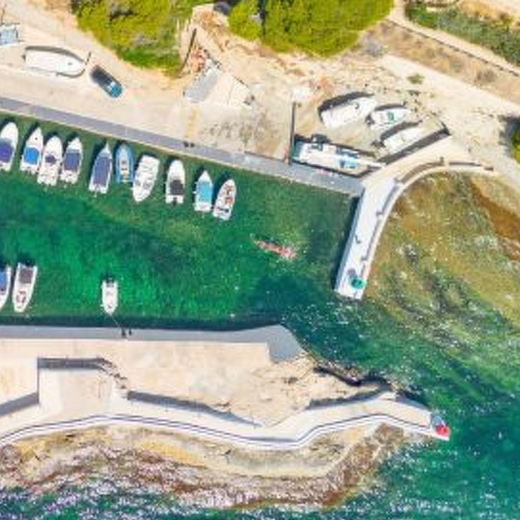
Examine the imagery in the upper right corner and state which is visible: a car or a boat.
boat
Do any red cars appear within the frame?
No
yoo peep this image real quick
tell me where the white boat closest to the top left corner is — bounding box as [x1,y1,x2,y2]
[25,48,84,76]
